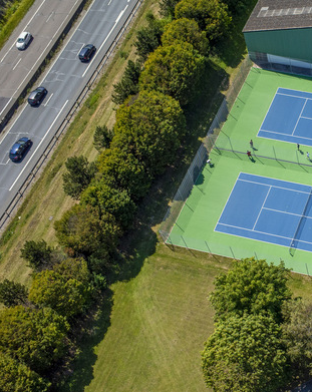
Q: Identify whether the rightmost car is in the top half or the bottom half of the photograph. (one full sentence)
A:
It is in the top half that the rightmost car appears.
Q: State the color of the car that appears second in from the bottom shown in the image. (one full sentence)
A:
The color of the car that appears second in from the bottom is black.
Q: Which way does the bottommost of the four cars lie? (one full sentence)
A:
What the image shows is the bottommost of the four cars lying at an angle.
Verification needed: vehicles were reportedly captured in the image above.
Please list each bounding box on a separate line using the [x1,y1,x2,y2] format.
[9,138,33,163]
[16,32,33,50]
[76,44,97,65]
[27,86,49,109]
